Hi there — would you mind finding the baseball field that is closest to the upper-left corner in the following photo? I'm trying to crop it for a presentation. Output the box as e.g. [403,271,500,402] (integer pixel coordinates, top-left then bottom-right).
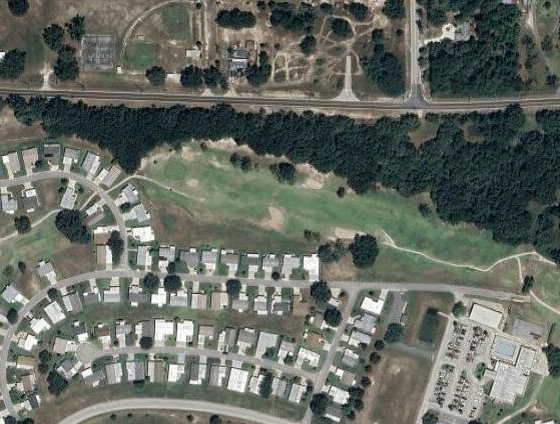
[125,41,156,75]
